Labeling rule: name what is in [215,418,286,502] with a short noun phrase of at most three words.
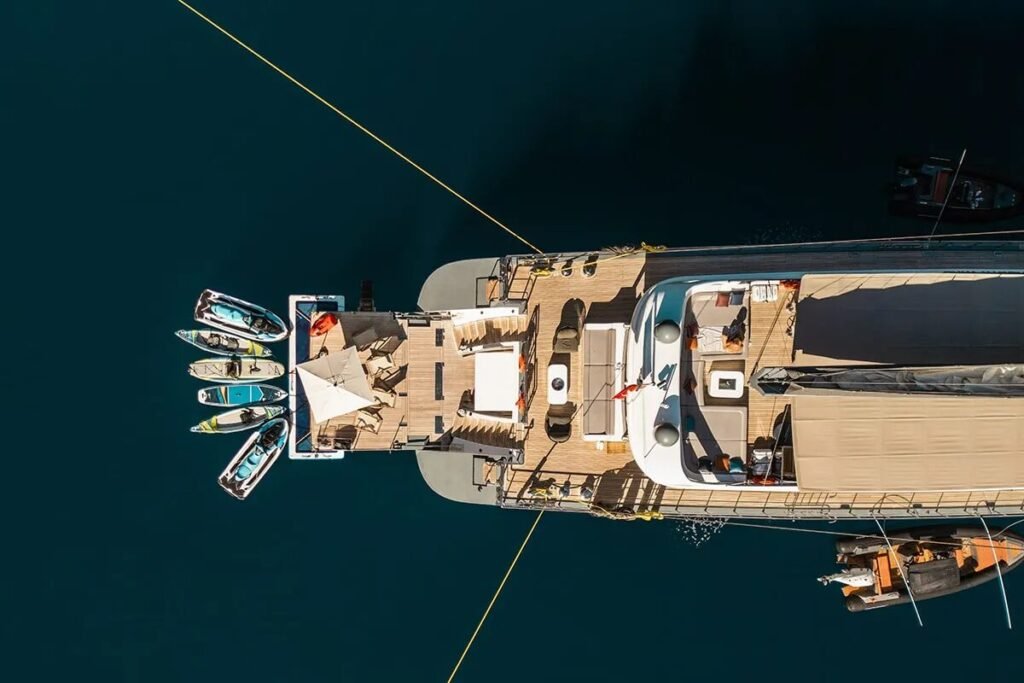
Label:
boat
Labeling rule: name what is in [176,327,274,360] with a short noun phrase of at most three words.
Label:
boat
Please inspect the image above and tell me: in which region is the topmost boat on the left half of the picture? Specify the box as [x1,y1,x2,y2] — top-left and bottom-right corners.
[195,286,284,343]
